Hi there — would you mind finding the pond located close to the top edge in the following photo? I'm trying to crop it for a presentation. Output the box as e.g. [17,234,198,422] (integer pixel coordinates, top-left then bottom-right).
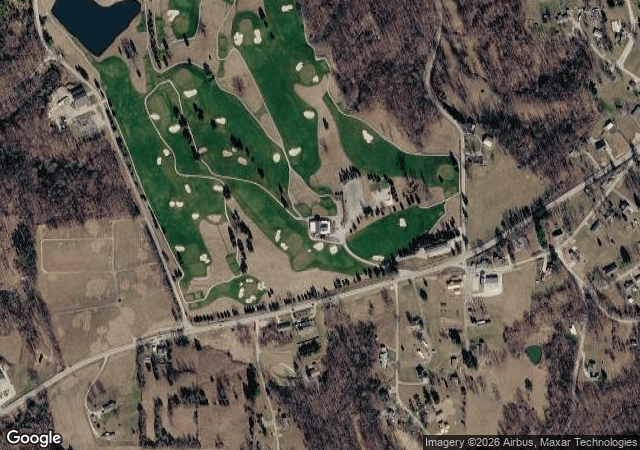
[51,0,141,55]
